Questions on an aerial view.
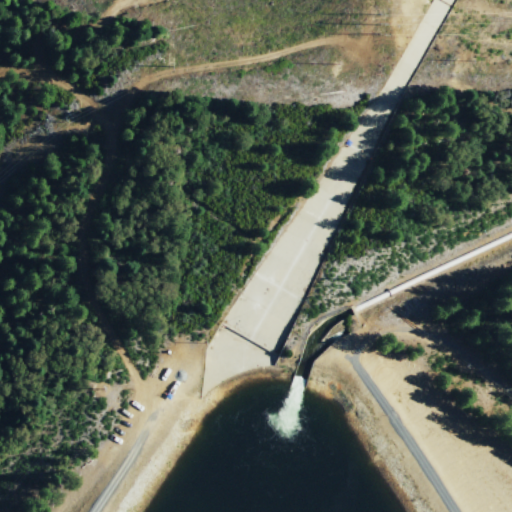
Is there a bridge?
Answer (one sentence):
No, I can't see a single bridge in this photo.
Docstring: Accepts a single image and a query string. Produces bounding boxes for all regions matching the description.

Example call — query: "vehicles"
[110,434,124,444]
[131,400,145,412]
[162,367,173,382]
[114,427,126,436]
[121,409,134,419]
[120,420,132,428]
[170,380,180,394]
